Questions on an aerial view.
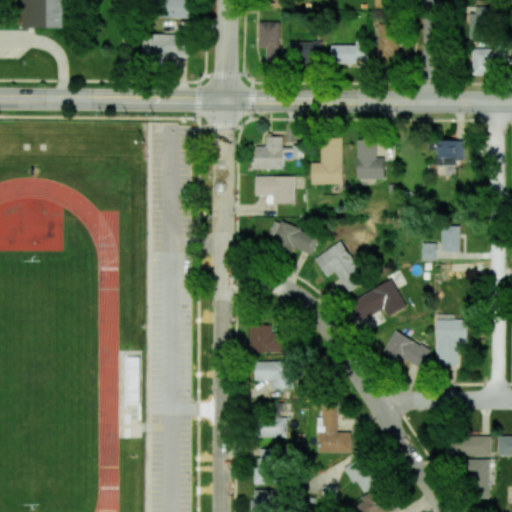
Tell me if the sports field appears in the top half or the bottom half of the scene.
bottom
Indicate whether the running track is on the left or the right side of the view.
left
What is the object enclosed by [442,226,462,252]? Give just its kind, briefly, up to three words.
house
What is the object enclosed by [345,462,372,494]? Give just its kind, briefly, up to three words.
house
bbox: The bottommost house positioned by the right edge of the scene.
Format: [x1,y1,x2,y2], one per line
[468,460,490,500]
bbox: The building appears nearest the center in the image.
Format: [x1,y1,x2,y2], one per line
[272,220,318,258]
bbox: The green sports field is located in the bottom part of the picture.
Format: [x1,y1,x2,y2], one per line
[0,200,98,512]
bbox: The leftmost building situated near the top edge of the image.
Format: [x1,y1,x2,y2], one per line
[22,0,62,28]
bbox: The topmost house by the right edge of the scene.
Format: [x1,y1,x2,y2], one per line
[470,6,490,40]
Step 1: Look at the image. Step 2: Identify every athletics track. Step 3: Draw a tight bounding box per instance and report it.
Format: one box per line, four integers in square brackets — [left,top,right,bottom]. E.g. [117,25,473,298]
[0,178,119,512]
